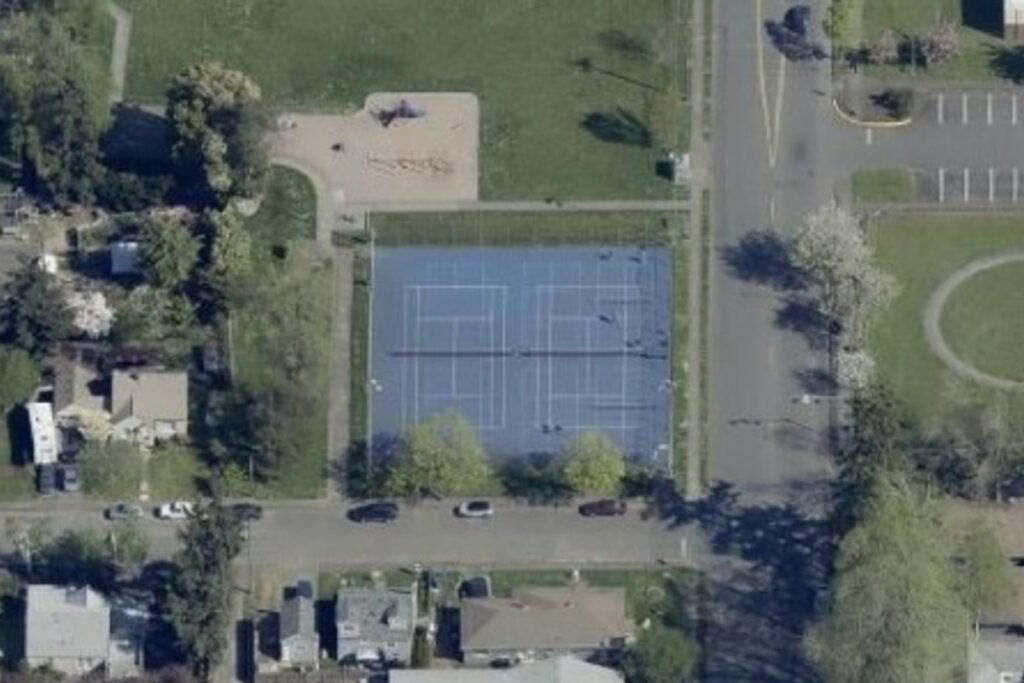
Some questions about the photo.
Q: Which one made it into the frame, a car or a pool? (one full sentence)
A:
Visible in the photo is a car.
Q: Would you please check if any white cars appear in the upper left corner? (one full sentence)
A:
No, looking in the upper left corner, there is no white car.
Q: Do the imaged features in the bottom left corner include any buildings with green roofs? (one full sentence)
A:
No, I can find no building with a green roof in the bottom left corner.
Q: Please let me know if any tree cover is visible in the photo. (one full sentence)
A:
Yes, tree cover shows up in the scene.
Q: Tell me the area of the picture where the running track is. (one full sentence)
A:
You can find the running track in the right area of the picture.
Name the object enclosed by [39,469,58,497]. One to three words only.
vehicle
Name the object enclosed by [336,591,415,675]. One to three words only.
house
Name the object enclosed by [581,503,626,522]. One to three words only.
car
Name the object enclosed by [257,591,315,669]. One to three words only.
house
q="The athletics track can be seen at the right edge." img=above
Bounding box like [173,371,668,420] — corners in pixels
[926,256,1024,388]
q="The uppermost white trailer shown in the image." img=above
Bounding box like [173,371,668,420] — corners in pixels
[28,405,57,472]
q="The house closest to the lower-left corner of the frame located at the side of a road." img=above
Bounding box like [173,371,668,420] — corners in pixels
[25,584,143,683]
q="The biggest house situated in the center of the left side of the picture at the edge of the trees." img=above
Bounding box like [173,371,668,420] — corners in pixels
[55,355,188,452]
